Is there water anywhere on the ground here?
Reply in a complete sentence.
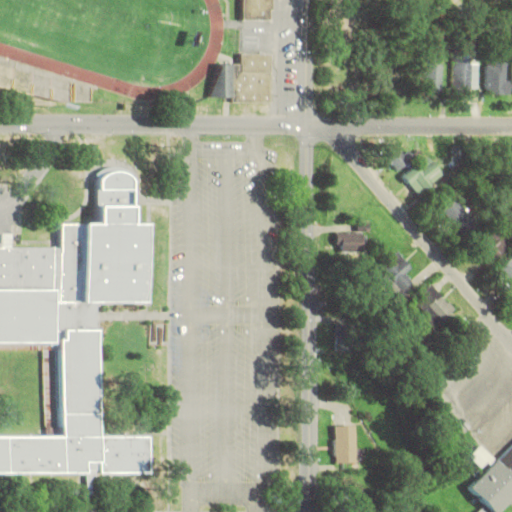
No, no water is visible.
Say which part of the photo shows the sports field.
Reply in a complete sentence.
Look in the top left portion of the view to spot the sports field.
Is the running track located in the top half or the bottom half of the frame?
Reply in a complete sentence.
It is in the top half that the running track appears.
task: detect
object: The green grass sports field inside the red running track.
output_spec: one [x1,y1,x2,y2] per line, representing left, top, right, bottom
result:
[0,0,210,86]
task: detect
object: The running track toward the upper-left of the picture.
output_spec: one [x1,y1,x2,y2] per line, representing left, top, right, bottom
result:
[0,0,224,99]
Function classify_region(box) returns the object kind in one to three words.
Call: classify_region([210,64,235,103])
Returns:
building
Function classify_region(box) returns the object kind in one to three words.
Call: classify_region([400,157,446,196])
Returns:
house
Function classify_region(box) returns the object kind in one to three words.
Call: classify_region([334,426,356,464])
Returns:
house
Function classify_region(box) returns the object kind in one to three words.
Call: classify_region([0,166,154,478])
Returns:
building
